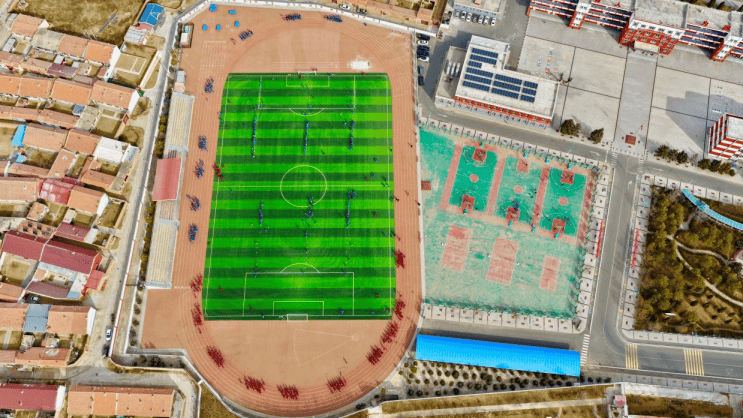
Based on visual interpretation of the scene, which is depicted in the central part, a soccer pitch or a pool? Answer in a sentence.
There is a soccer pitch in the central part.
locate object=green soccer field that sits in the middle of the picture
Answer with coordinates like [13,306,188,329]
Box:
[202,72,397,321]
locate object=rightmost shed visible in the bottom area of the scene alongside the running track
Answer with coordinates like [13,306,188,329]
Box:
[414,334,580,380]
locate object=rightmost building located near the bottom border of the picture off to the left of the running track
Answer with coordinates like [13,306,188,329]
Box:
[115,385,178,417]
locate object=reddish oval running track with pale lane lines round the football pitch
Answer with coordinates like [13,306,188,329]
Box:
[173,9,424,418]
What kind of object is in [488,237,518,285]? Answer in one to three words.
sports court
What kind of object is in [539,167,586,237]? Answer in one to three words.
basketball court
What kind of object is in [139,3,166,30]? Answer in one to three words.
building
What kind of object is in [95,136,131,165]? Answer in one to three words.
house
